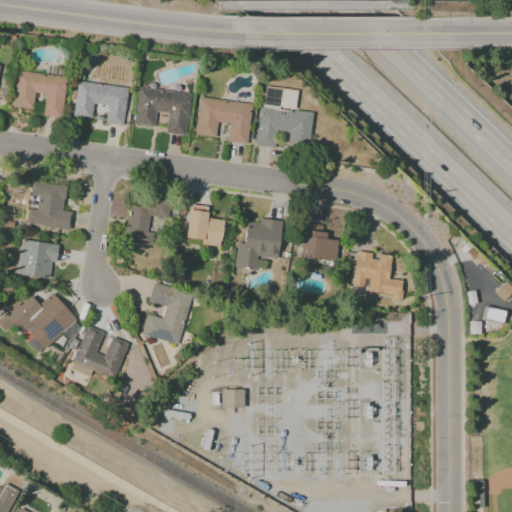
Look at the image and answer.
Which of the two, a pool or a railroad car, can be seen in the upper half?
pool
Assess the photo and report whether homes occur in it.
Yes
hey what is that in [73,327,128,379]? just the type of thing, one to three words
house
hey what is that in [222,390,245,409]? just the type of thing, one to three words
building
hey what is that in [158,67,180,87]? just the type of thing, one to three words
swimming pool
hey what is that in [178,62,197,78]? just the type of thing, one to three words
swimming pool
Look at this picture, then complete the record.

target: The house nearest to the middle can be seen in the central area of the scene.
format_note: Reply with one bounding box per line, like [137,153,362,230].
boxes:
[236,219,284,268]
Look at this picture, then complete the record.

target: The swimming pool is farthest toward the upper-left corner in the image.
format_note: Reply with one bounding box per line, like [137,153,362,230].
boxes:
[33,46,60,64]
